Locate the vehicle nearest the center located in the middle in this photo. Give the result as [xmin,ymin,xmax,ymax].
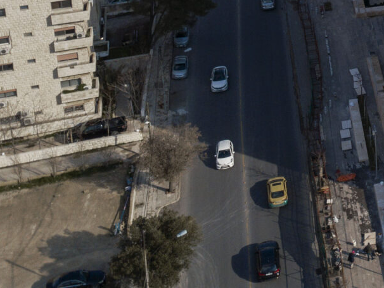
[212,131,237,168]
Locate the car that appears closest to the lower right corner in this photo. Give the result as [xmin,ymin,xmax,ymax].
[252,236,281,281]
